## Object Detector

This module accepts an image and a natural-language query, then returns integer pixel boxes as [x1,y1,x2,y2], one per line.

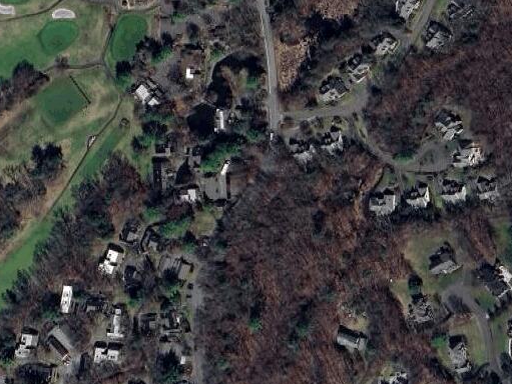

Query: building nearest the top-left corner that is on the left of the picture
[133,80,163,106]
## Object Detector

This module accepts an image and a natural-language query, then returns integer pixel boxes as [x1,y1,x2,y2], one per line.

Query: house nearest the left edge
[16,330,38,356]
